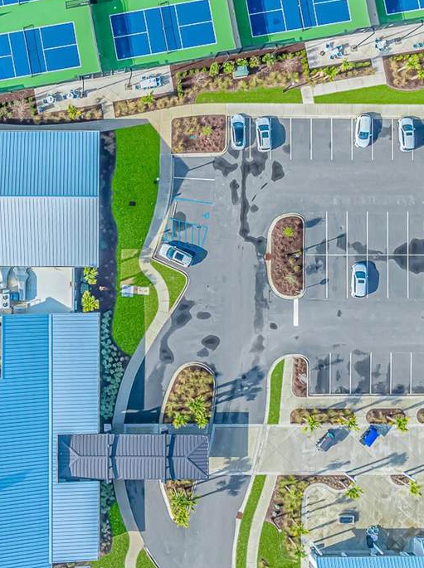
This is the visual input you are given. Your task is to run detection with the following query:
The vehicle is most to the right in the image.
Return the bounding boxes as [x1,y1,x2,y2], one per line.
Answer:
[397,117,417,152]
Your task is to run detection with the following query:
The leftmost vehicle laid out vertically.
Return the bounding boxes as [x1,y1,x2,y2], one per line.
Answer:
[229,114,247,150]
